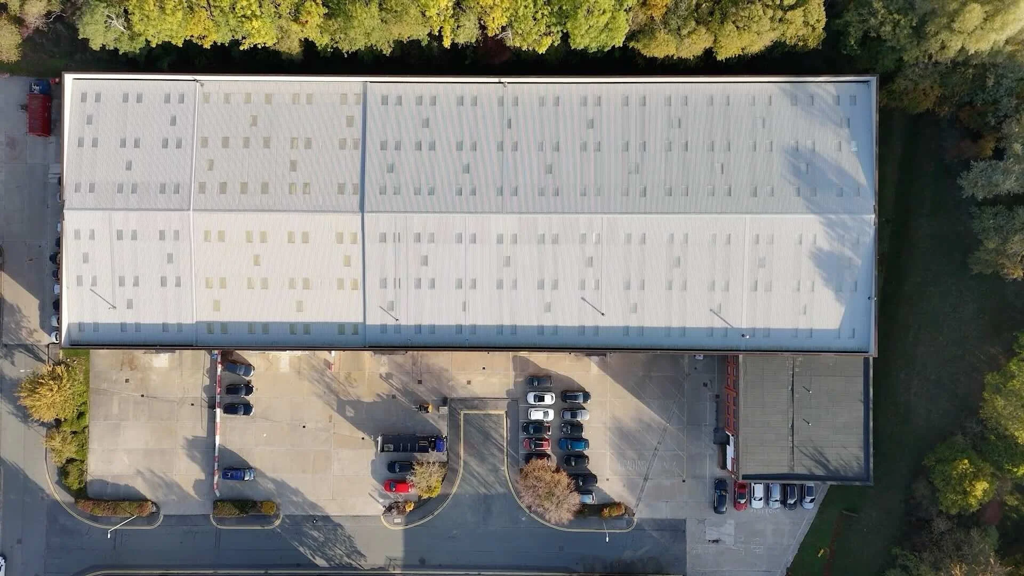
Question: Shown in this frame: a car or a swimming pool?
car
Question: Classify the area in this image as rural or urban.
urban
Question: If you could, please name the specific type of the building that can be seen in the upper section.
warehouse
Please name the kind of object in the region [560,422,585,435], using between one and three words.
vehicle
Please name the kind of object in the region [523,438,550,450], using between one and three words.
vehicle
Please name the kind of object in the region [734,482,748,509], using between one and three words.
car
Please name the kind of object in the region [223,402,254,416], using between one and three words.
car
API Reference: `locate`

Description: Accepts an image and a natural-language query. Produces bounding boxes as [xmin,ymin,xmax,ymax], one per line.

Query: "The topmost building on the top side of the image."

[61,72,879,356]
